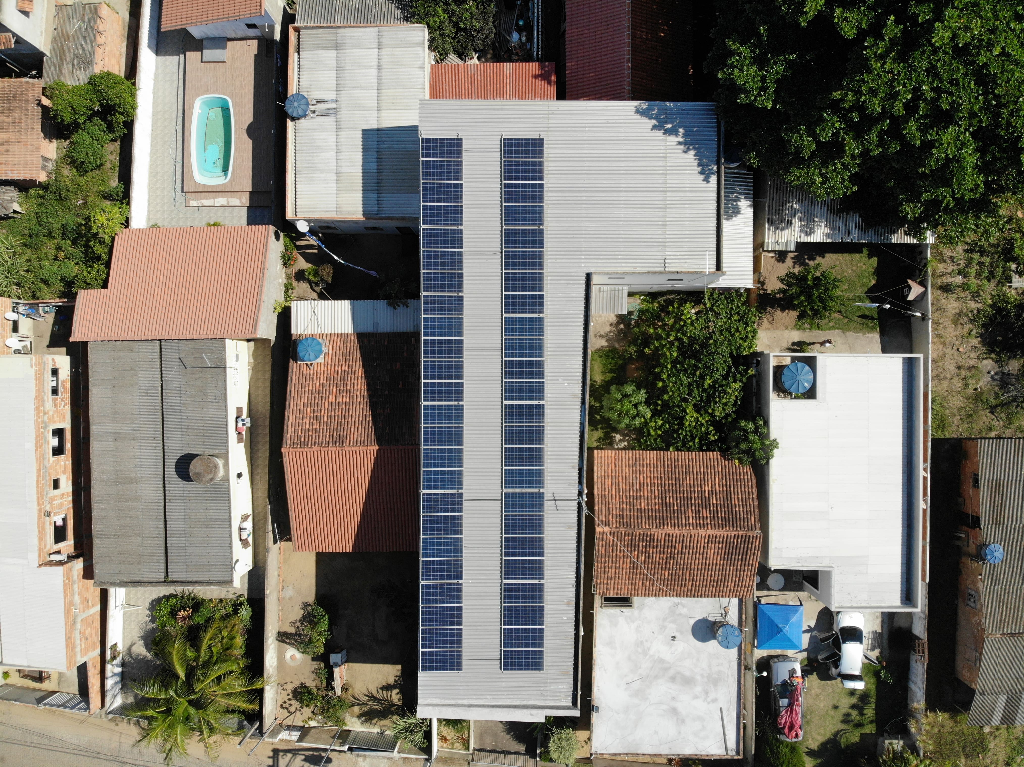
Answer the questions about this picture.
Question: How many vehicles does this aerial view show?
2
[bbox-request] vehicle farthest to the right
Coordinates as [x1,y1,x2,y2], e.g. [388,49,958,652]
[812,611,882,697]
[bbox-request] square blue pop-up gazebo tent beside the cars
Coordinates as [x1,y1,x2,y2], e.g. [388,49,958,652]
[756,594,802,650]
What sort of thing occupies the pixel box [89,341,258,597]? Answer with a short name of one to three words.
house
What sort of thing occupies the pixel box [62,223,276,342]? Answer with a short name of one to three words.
house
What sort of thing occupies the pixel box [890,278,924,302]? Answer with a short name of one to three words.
shed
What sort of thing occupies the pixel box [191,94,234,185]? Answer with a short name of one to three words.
swimming pool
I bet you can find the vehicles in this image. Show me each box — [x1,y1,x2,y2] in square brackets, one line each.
[763,653,809,741]
[812,611,882,697]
